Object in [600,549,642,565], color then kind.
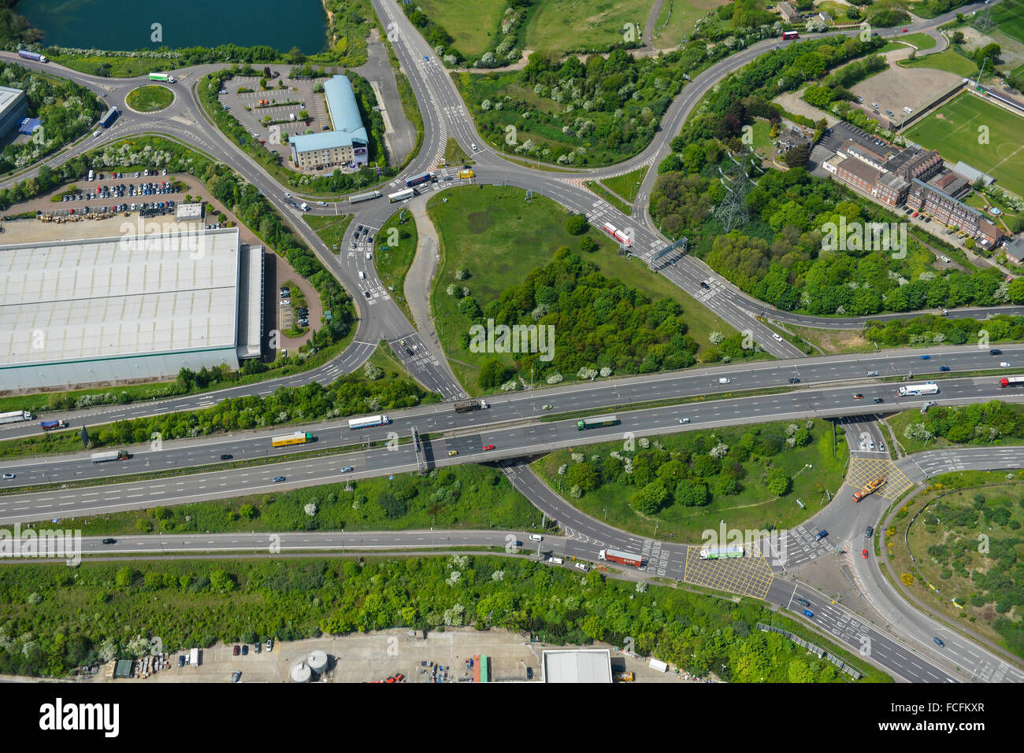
white vehicle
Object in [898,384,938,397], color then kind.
white vehicle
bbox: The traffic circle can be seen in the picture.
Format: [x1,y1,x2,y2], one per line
[124,85,176,113]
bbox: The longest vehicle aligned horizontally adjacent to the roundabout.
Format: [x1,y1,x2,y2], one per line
[148,71,177,83]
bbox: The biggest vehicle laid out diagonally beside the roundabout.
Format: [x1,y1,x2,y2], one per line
[99,108,119,126]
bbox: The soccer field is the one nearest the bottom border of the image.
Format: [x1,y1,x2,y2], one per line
[901,90,1024,202]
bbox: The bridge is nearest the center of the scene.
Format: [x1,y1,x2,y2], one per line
[394,382,583,474]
